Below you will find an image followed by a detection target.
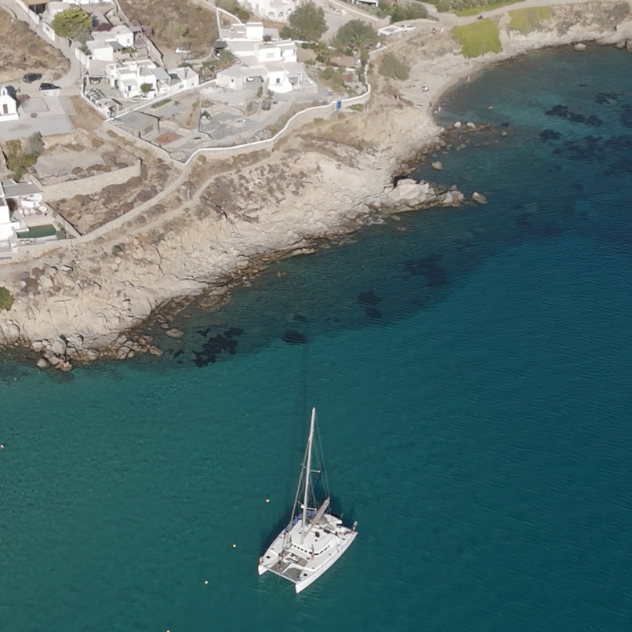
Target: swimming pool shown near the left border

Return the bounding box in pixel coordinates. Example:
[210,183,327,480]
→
[15,226,57,239]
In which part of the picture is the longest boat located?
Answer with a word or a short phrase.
bottom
